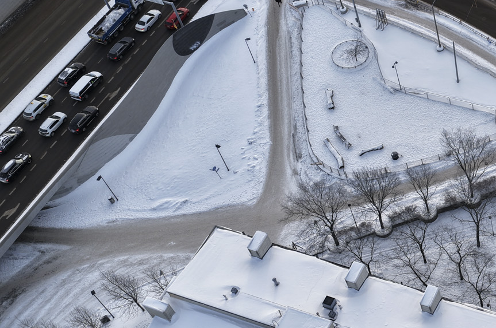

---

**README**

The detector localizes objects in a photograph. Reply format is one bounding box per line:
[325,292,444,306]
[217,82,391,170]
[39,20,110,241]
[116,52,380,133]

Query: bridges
[0,78,139,263]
